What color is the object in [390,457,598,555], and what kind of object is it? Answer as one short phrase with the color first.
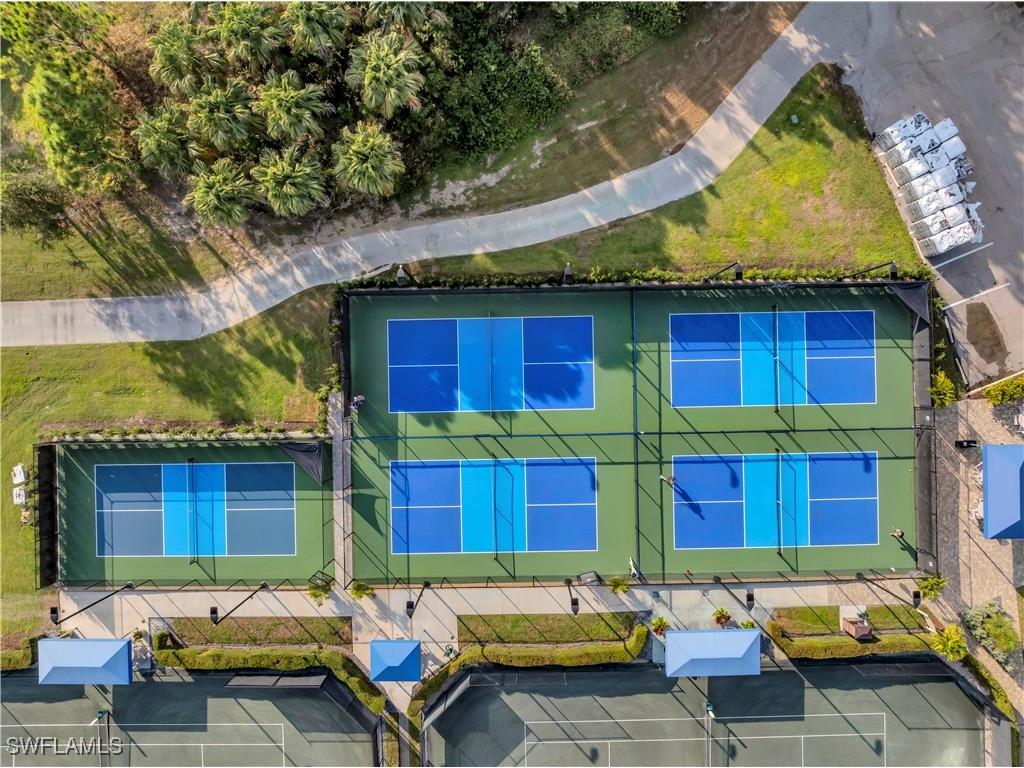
blue sports court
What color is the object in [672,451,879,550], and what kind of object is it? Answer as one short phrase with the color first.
blue sports court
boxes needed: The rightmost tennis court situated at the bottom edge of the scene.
[430,657,984,768]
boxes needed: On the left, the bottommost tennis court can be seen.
[0,661,386,768]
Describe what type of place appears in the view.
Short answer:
sports ground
